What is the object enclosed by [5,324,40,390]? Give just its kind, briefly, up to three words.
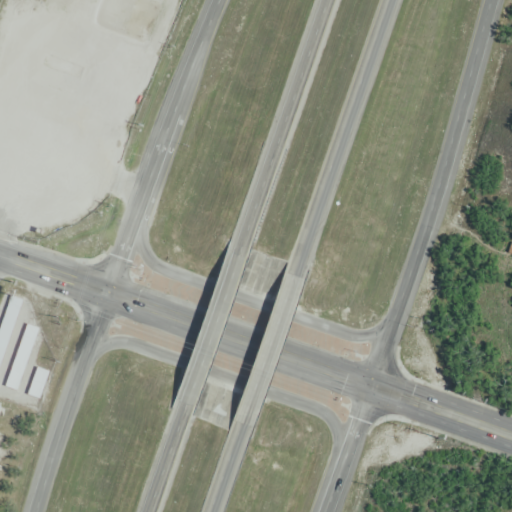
shed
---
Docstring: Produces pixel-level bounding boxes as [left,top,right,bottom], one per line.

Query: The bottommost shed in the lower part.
[28,367,50,398]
